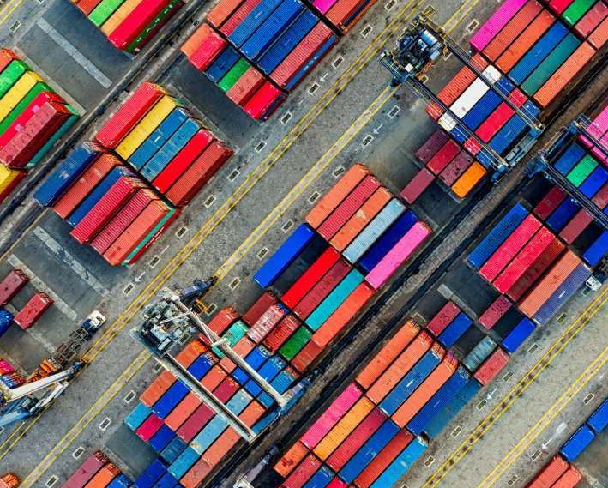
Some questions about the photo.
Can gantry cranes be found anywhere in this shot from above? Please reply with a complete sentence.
Yes, I can see a gantry crane in this picture.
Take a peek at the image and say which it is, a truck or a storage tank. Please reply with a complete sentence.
Looking from above, you can make out a truck.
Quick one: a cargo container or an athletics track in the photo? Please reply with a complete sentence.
I can see a cargo container in this picture.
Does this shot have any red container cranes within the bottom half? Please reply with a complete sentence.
No, I see no red container crane within the bottom half.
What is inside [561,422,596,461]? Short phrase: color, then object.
blue shipping container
